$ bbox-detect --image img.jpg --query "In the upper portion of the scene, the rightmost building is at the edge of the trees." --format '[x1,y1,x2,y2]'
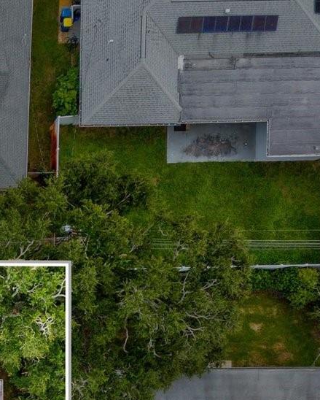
[76,0,320,160]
